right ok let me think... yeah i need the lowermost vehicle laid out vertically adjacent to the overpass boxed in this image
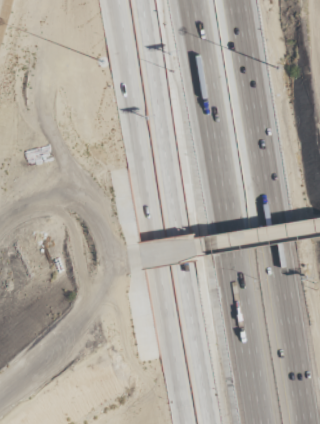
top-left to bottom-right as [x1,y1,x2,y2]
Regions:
[232,282,246,342]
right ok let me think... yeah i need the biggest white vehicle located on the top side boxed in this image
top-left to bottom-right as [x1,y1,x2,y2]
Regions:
[195,54,210,113]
